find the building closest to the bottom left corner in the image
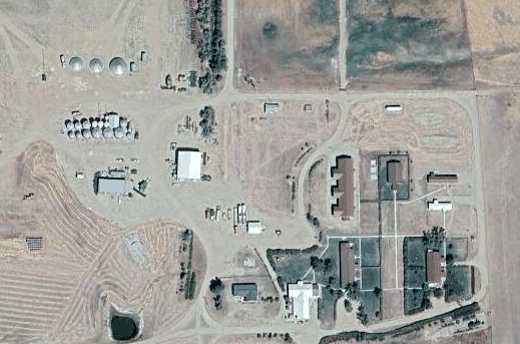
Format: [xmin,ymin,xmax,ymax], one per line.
[95,172,126,195]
